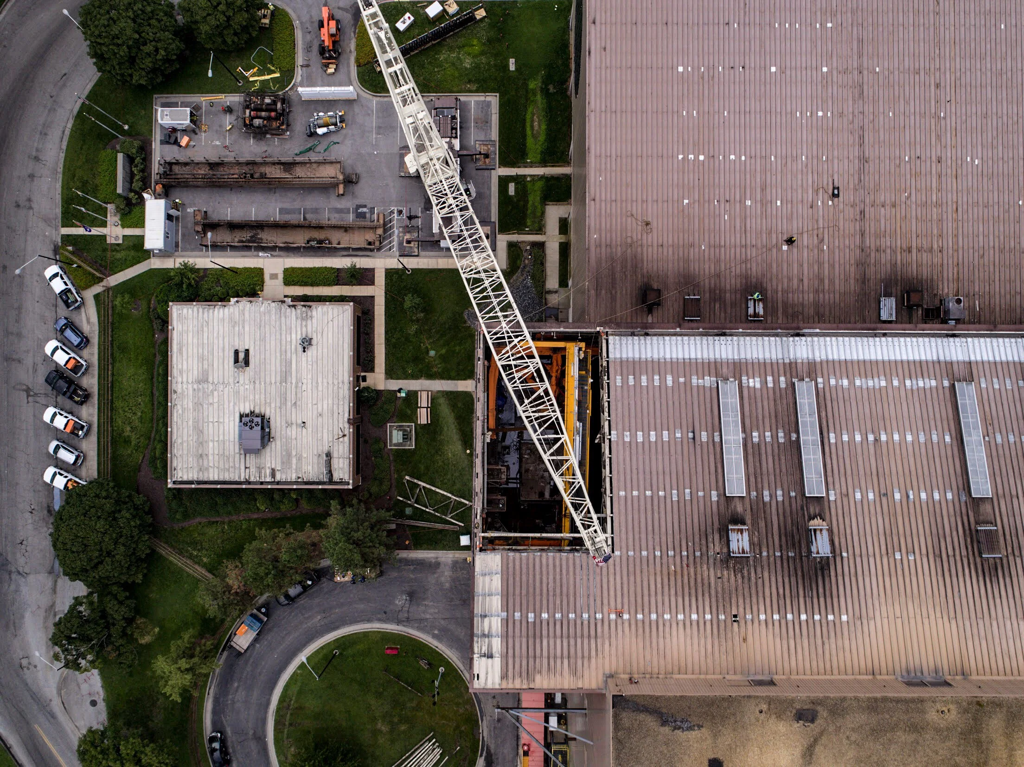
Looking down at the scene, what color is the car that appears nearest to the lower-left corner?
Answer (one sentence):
From above, the car that appears nearest to the lower-left corner appears black.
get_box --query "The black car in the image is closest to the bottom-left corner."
[206,729,232,767]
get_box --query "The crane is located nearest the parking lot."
[356,0,612,563]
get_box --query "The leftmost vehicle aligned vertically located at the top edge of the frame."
[317,6,342,73]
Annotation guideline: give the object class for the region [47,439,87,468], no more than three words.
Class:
car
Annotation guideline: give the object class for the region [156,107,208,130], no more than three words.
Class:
trailer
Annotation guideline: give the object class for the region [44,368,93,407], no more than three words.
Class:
truck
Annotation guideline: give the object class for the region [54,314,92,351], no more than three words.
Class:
car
